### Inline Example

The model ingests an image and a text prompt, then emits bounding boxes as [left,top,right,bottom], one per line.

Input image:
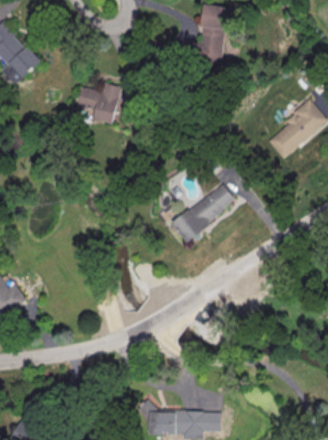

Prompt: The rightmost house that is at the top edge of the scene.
[201,4,225,60]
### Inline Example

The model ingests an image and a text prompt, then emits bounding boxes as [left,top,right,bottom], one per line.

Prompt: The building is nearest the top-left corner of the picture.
[0,22,38,82]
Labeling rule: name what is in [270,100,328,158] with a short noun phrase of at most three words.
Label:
house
